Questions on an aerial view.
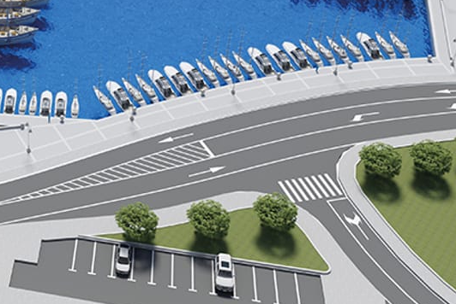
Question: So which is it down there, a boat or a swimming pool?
boat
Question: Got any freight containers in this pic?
No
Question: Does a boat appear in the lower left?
No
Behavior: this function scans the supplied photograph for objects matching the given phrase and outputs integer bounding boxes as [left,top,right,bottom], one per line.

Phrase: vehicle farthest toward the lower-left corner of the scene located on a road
[116,245,132,275]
